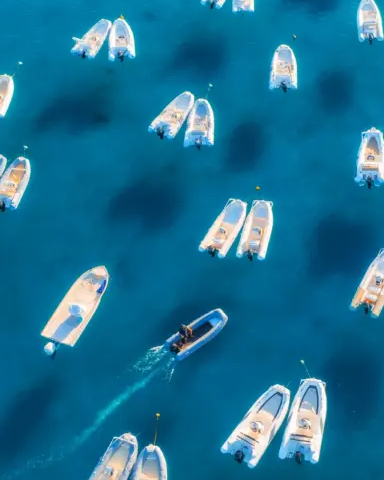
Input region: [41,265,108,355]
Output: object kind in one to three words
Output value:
boat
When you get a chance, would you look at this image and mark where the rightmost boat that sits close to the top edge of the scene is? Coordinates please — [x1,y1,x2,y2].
[357,0,383,47]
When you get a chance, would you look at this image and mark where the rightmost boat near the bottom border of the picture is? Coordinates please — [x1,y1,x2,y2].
[280,378,326,466]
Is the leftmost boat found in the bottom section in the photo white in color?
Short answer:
Yes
